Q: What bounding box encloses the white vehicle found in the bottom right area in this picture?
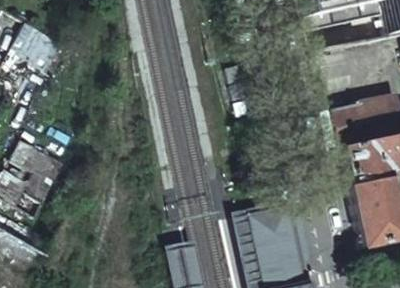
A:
[330,208,344,232]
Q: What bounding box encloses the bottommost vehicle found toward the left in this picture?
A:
[45,140,66,158]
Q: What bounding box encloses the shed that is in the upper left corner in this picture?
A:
[10,24,56,71]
